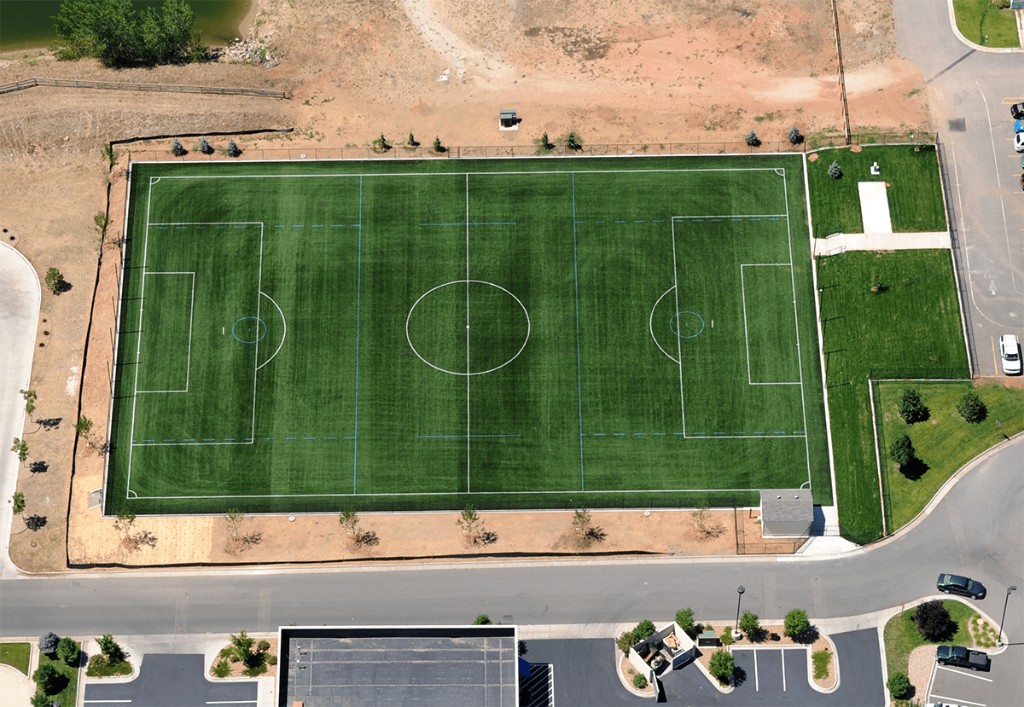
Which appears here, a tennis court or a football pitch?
football pitch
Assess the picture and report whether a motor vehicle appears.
Yes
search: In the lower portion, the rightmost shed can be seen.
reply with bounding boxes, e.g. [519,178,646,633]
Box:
[760,490,813,536]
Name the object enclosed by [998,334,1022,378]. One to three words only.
car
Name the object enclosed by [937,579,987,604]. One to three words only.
car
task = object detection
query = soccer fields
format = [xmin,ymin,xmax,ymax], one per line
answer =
[104,153,834,515]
